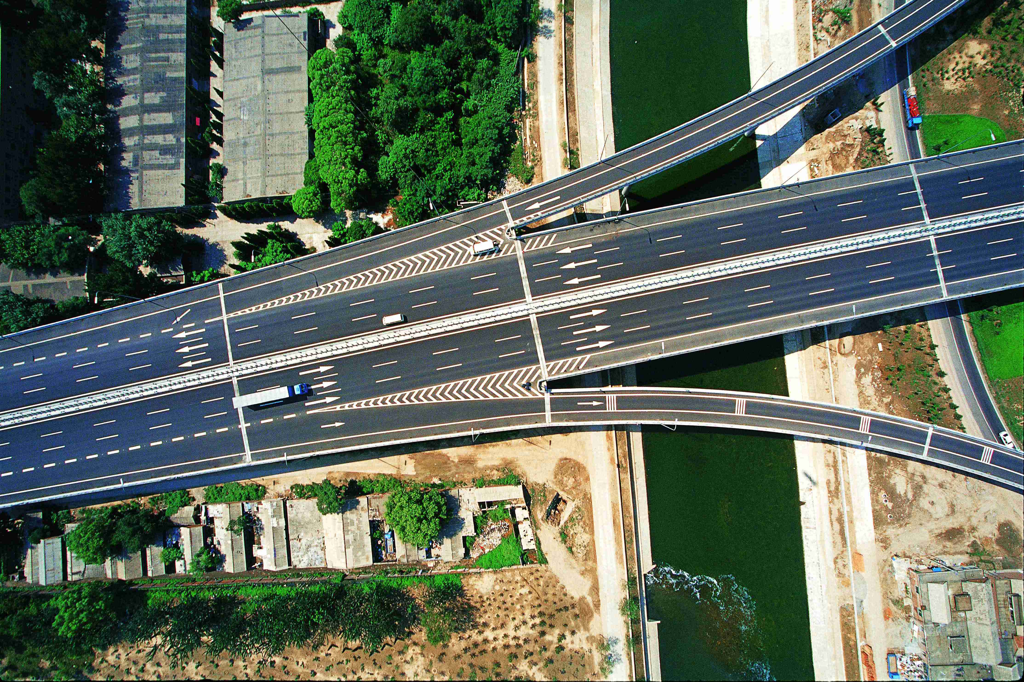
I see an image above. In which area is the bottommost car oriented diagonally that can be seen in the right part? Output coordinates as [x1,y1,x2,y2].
[997,430,1012,447]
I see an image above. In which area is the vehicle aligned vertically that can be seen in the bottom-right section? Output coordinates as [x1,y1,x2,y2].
[886,654,900,679]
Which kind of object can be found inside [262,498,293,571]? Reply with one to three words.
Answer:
house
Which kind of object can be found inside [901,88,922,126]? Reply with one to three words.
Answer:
truck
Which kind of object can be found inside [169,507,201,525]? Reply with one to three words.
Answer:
house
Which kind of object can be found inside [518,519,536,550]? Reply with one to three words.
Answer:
shed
